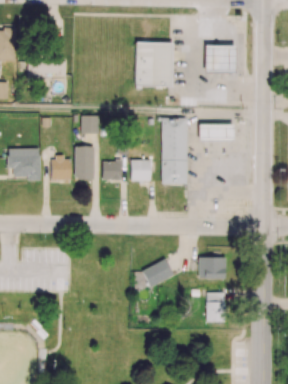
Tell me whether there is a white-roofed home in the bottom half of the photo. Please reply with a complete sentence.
Yes, the scene does show a white-roofed home in the bottom half of the photo.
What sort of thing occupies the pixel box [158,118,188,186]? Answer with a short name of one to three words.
building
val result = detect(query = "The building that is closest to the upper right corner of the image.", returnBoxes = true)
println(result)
[136,42,174,90]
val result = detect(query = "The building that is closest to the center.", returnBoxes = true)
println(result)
[130,160,152,182]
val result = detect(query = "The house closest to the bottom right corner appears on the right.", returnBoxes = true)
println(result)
[206,292,226,324]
